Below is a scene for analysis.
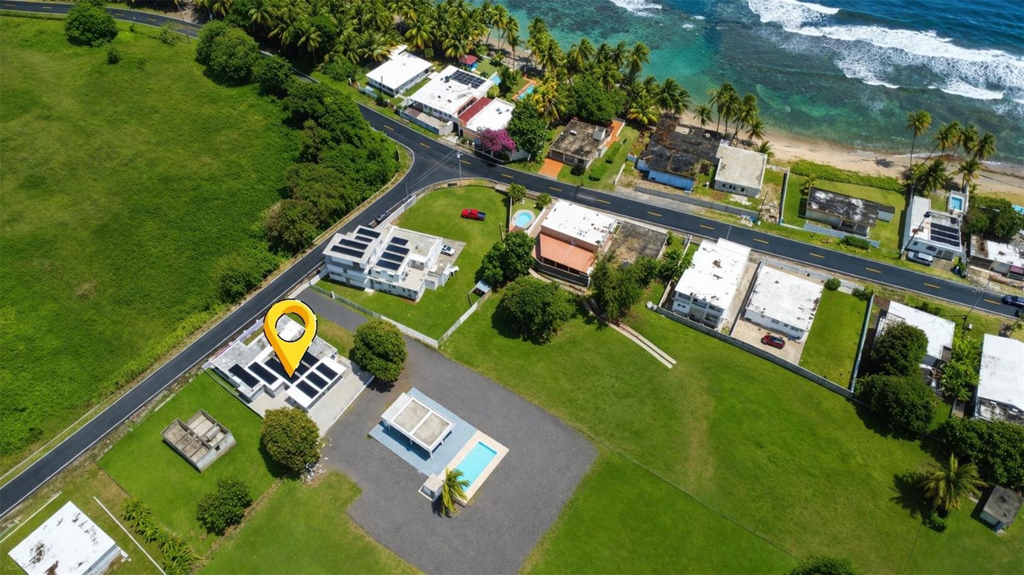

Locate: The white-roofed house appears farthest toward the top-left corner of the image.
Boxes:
[365,46,433,100]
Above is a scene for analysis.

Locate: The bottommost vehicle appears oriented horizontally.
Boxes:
[761,334,789,349]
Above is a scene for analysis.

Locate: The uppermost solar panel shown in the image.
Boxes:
[450,70,486,88]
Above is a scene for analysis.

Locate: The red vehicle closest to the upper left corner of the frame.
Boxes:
[460,208,487,221]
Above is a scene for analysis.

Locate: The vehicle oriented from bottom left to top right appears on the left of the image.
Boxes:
[371,209,392,224]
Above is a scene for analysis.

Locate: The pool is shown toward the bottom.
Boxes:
[437,428,509,505]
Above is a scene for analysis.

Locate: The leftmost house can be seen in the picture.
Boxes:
[8,501,129,575]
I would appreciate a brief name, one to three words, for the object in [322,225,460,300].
house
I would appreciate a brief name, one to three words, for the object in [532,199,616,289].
house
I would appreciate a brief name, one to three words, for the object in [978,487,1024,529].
shed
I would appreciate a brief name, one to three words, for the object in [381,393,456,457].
building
